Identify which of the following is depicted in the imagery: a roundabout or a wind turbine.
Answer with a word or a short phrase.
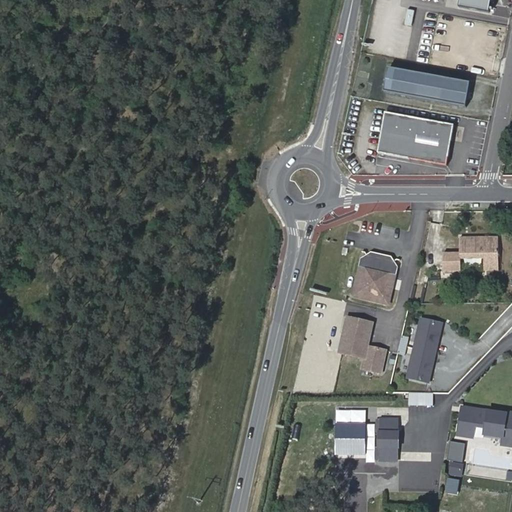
roundabout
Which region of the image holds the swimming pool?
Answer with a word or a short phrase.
bottom right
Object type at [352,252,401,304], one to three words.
building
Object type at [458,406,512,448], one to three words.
house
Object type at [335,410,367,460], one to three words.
building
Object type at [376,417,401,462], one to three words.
house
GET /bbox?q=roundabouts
[258,118,361,247]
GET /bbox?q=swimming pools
[473,448,512,470]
